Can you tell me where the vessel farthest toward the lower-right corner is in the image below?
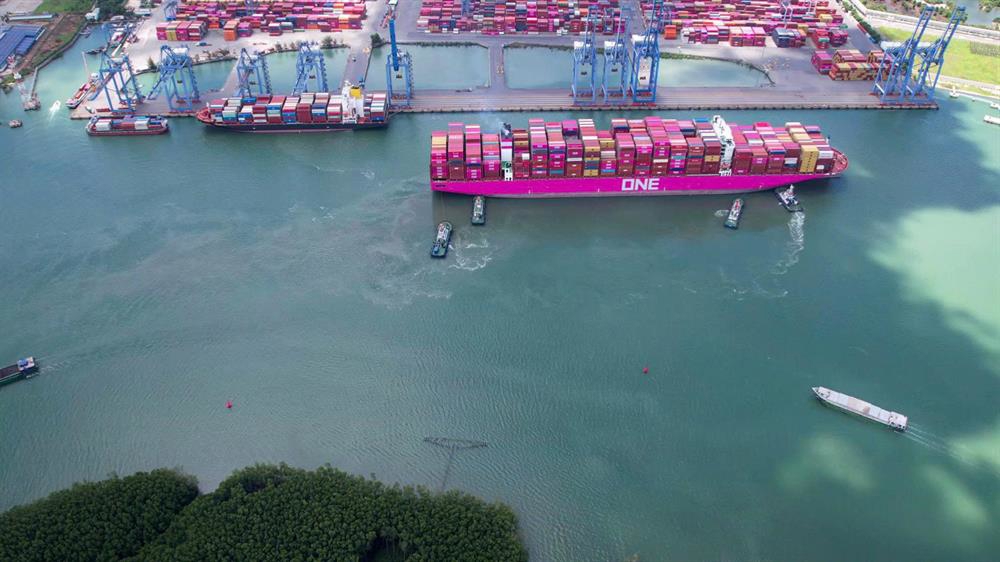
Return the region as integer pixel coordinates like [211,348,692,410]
[807,384,909,431]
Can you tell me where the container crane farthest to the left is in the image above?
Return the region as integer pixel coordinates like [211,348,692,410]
[83,40,145,109]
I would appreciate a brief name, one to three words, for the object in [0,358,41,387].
ship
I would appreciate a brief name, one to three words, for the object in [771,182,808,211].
boat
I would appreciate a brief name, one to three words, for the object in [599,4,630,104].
container crane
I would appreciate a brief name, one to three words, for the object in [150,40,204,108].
container crane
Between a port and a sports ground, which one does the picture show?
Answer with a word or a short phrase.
port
